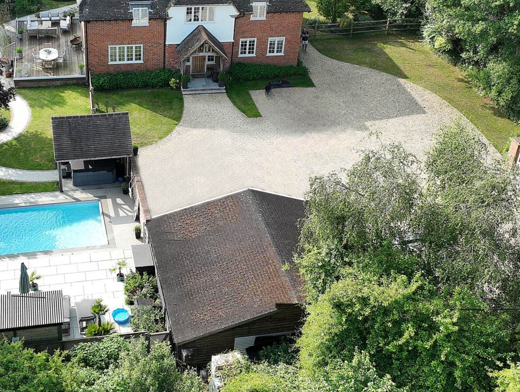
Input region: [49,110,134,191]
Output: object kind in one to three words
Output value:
building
